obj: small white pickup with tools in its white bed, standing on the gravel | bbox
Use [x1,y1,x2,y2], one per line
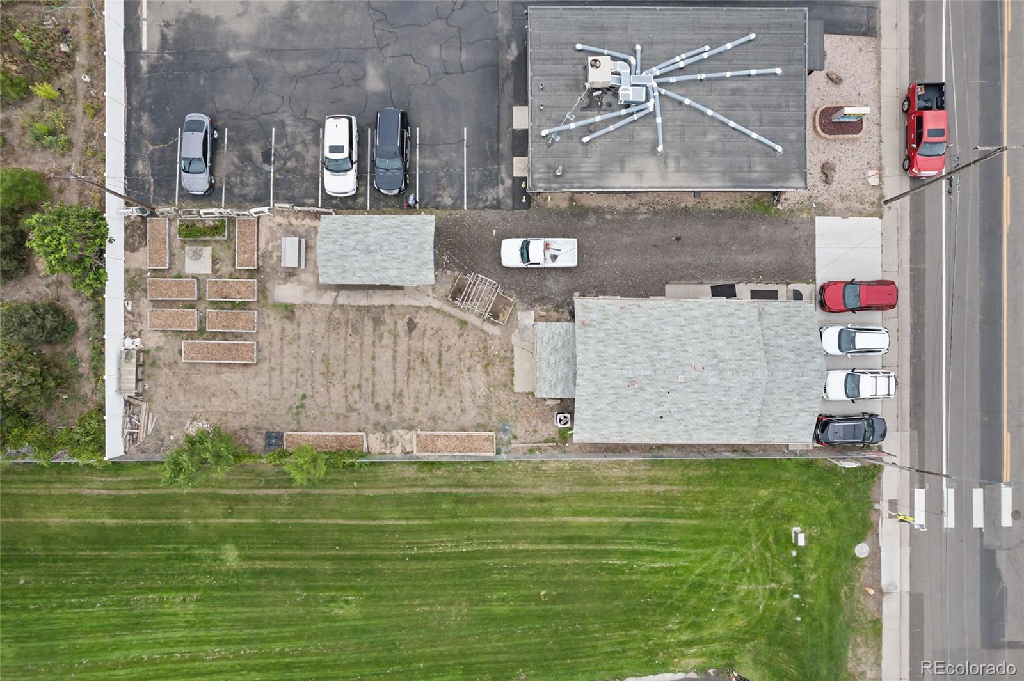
[501,233,578,271]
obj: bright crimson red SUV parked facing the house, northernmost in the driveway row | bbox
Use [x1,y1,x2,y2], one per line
[818,276,898,316]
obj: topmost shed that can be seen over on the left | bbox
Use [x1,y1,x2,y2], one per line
[315,211,436,287]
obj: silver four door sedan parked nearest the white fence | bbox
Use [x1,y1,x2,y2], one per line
[174,113,216,196]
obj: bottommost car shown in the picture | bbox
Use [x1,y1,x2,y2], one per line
[814,411,889,451]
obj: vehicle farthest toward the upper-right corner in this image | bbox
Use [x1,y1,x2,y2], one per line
[898,82,955,179]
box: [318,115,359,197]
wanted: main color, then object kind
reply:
white car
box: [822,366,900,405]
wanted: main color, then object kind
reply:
white car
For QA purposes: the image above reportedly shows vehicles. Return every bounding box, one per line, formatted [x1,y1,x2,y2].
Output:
[814,411,889,451]
[818,276,898,316]
[819,322,890,360]
[822,366,900,405]
[501,233,578,271]
[174,113,216,196]
[369,105,409,196]
[318,115,359,197]
[898,82,955,179]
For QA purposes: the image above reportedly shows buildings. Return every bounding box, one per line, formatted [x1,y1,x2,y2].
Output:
[523,7,825,194]
[567,295,824,445]
[315,211,436,287]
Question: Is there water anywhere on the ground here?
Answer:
No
